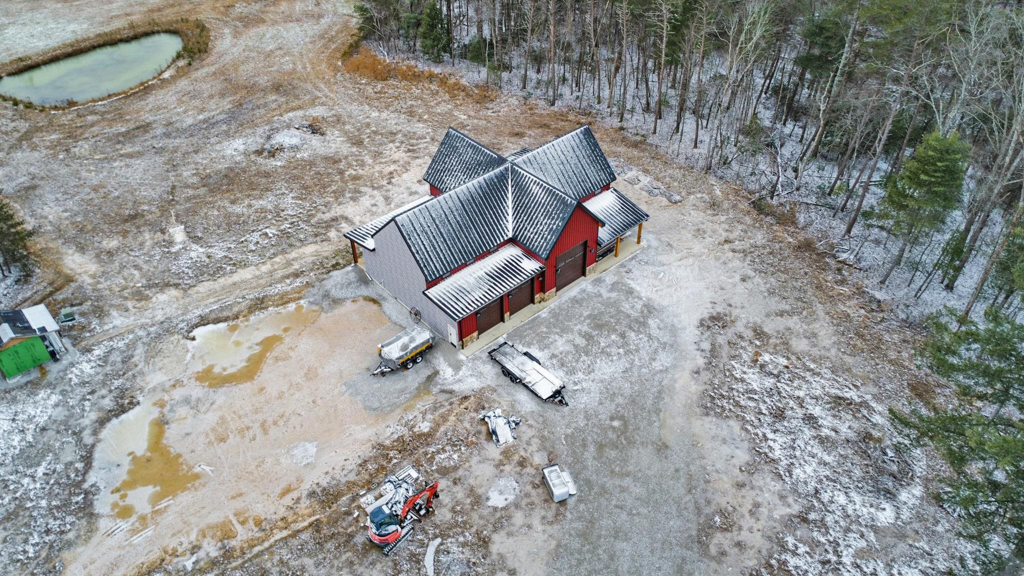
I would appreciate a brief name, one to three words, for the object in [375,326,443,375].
trailer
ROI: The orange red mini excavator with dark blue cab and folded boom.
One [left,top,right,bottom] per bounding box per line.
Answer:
[362,480,442,556]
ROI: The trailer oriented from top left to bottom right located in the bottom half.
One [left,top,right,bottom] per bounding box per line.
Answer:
[487,342,569,406]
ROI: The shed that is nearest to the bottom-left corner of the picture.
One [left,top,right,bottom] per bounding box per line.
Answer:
[0,302,71,381]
